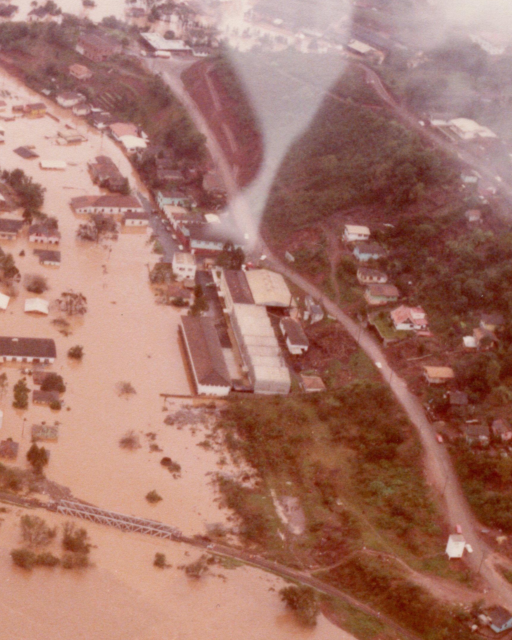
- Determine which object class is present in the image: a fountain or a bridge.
bridge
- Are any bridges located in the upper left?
No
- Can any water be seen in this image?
Yes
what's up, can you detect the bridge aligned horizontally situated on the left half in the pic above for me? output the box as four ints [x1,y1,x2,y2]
[52,501,179,543]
